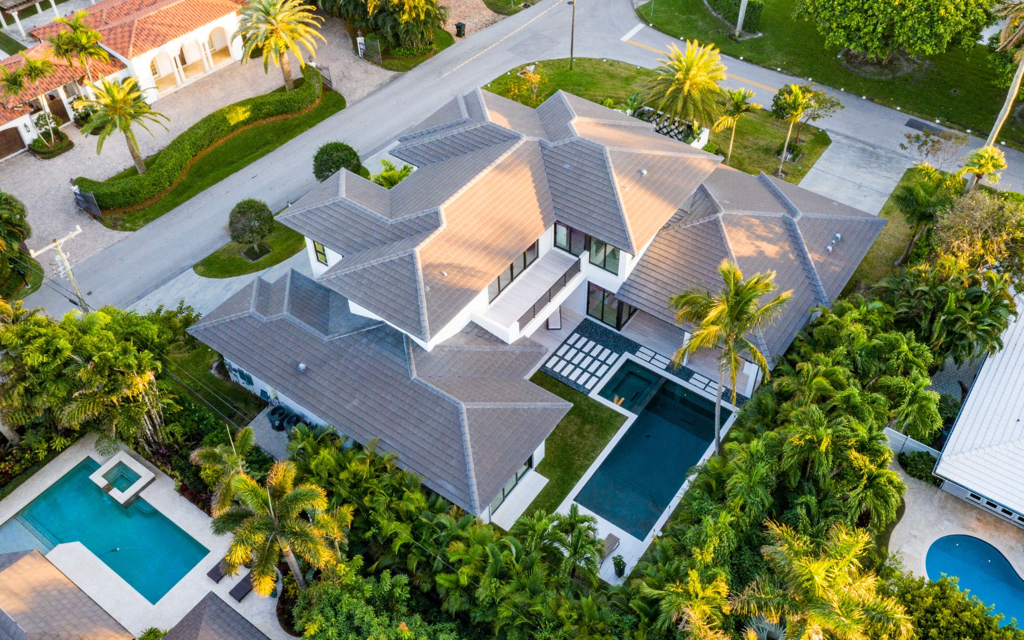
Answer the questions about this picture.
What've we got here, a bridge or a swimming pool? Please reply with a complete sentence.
It is a swimming pool that can be seen here.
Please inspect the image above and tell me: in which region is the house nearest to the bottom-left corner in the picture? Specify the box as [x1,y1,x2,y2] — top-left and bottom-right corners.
[0,549,138,640]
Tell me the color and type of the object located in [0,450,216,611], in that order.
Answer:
blue swimming pool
